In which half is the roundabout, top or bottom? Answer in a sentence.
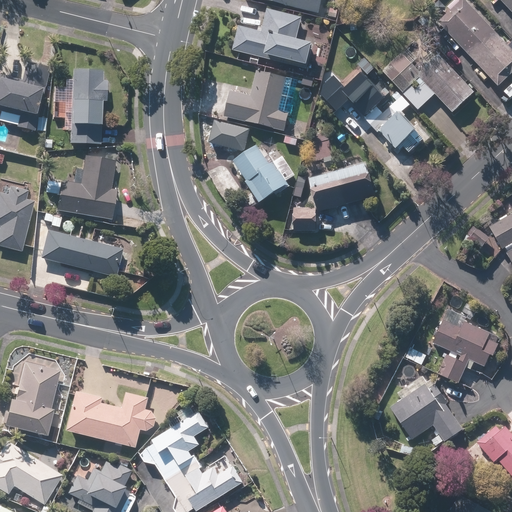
It is in the bottom half that the roundabout appears.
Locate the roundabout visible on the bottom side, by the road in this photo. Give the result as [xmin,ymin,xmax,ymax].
[234,296,316,378]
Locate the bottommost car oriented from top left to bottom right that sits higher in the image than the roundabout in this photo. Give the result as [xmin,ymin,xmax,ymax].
[253,264,268,277]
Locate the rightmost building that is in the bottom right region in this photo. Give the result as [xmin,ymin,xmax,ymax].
[476,414,512,480]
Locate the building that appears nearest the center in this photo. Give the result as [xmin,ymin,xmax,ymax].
[292,206,318,232]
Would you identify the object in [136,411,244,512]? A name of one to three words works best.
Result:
house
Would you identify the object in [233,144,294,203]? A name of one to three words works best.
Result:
house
